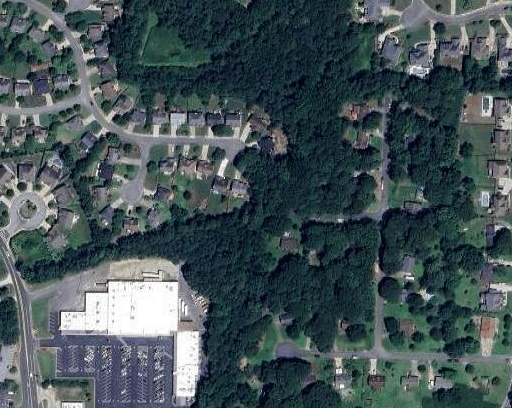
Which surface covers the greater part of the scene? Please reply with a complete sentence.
The bulk of the photo consists of trees.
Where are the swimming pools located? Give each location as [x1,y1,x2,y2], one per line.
[483,96,492,114]
[482,191,490,205]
